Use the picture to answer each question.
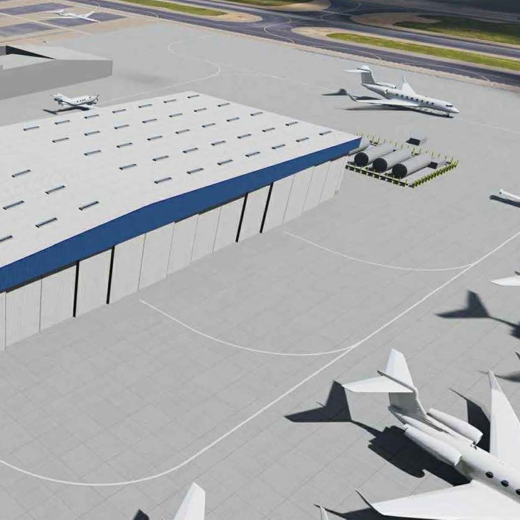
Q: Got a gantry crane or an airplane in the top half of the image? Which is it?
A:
airplane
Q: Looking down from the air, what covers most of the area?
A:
paved ground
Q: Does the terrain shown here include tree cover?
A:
No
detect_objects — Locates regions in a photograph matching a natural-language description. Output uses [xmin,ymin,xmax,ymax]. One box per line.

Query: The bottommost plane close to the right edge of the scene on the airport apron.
[344,349,520,520]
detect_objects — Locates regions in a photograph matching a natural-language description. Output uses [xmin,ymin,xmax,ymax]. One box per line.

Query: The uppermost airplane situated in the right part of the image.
[347,65,464,118]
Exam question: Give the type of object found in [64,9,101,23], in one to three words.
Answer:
airplane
